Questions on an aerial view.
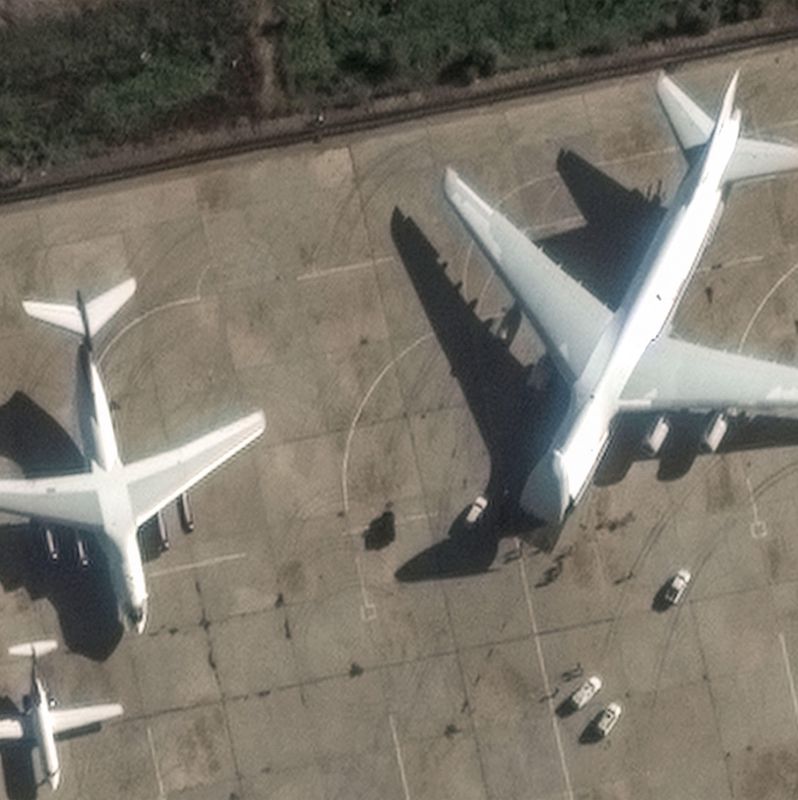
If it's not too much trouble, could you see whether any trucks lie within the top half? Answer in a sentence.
No, the scene shows no truck within the top half.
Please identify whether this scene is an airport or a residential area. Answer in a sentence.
What you see here is an airport.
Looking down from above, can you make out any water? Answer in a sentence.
No, water can't be seen anywhere here.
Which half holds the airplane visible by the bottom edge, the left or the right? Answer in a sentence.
The airplane visible by the bottom edge appears in the left half of the scene.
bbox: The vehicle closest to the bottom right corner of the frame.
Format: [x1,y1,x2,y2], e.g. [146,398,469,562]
[594,702,623,736]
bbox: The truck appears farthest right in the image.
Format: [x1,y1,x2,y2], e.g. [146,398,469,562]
[664,569,693,605]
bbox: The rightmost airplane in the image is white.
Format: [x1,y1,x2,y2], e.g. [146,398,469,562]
[441,72,798,555]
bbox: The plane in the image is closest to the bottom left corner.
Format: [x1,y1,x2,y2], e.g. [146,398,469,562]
[0,641,122,788]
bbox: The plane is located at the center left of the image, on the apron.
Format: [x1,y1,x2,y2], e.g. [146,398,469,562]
[0,280,264,631]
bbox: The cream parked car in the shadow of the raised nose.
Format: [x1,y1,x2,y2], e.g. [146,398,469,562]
[464,495,488,522]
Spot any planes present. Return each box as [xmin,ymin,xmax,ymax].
[0,641,122,788]
[0,280,264,631]
[441,72,798,555]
